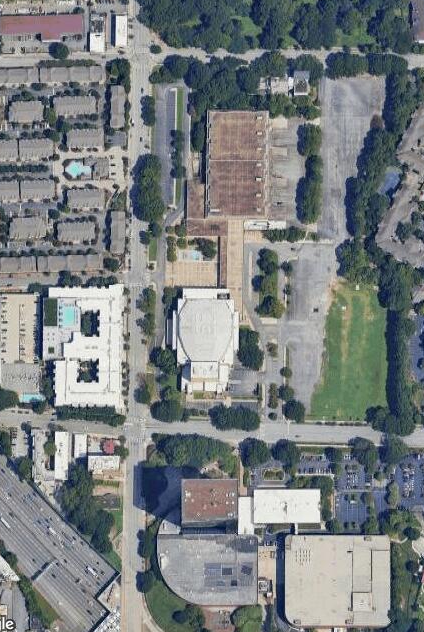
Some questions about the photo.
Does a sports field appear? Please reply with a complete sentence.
Yes, looking at the shot, I can spot a sports field.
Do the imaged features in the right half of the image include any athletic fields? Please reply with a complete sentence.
Yes, I can see an athletic field in the right half of the image.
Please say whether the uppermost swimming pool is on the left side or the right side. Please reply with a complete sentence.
The uppermost swimming pool appears in the left half of the scene.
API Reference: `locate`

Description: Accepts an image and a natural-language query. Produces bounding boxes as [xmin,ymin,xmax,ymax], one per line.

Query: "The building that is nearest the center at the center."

[174,288,239,395]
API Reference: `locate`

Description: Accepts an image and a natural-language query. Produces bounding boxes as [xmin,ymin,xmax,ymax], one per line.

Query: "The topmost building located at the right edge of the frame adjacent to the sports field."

[375,174,424,272]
